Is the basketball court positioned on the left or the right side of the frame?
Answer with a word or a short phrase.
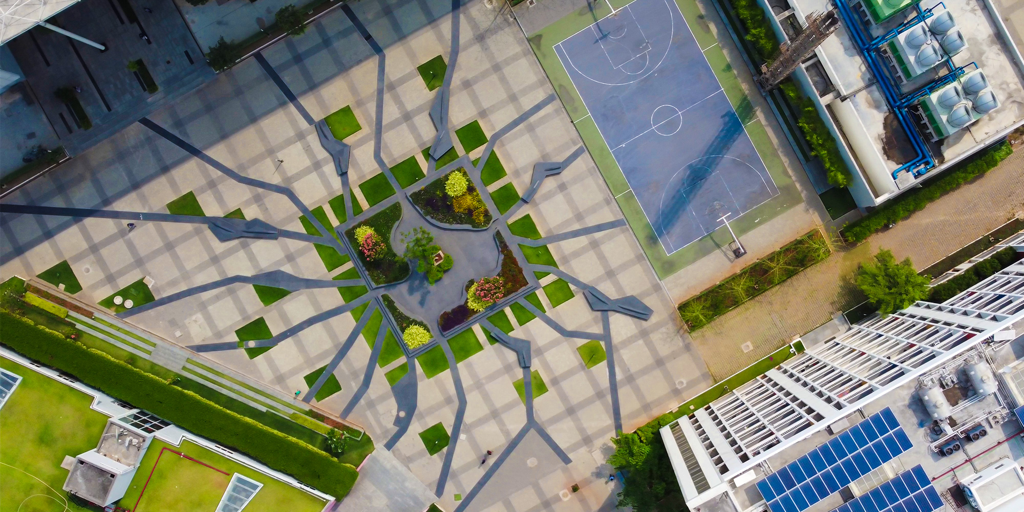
right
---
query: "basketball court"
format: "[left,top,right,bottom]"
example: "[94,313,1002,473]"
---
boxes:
[531,0,804,279]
